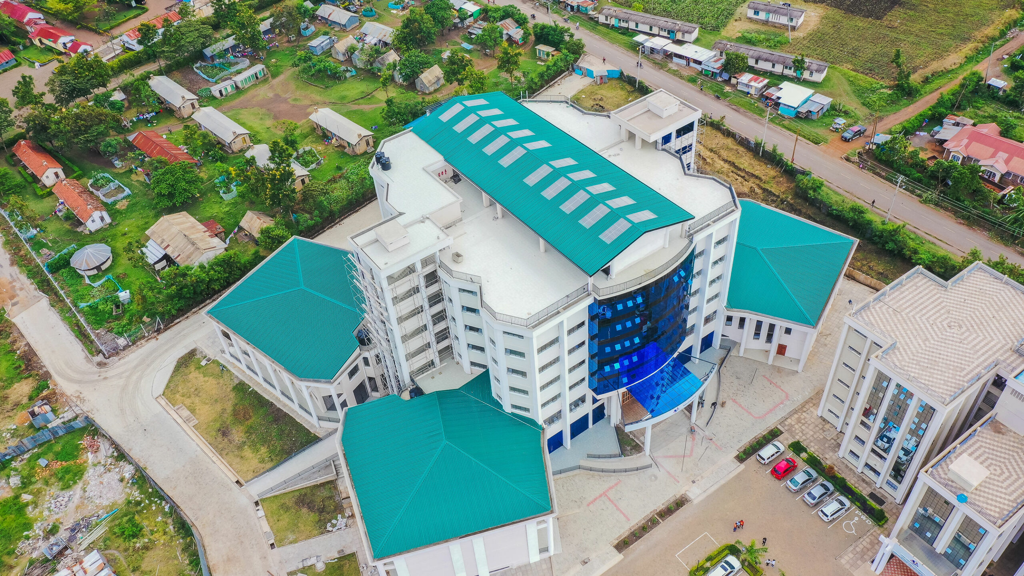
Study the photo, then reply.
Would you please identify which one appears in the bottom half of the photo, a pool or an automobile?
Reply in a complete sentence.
It is an automobile that can be seen in the bottom half of the photo.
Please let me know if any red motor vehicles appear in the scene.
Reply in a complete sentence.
Yes, there's a red motor vehicle here.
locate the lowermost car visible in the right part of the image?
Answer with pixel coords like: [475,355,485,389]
[699,552,741,576]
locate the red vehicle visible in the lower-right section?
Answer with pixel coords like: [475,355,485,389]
[772,454,804,480]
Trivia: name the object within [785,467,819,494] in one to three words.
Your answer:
car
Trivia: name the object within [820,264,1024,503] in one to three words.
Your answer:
building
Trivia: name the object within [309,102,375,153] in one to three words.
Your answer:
house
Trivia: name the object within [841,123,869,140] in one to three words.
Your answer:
vehicle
